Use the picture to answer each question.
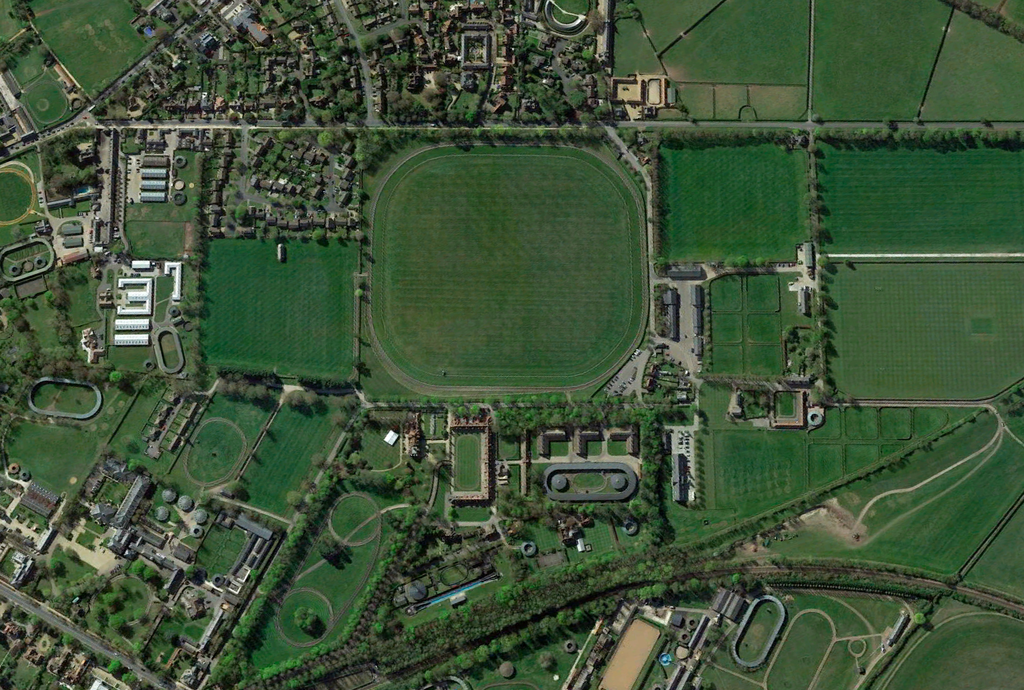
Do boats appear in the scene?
No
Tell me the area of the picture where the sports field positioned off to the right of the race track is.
right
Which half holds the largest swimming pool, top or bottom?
bottom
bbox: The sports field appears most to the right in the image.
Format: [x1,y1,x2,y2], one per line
[828,263,1024,399]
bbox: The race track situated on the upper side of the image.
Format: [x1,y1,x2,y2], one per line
[367,140,648,396]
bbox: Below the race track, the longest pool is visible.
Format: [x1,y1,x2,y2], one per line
[406,575,500,616]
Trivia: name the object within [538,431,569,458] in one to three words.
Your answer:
building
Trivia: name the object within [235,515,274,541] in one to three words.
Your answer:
barn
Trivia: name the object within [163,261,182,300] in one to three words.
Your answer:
building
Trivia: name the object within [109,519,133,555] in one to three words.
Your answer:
house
